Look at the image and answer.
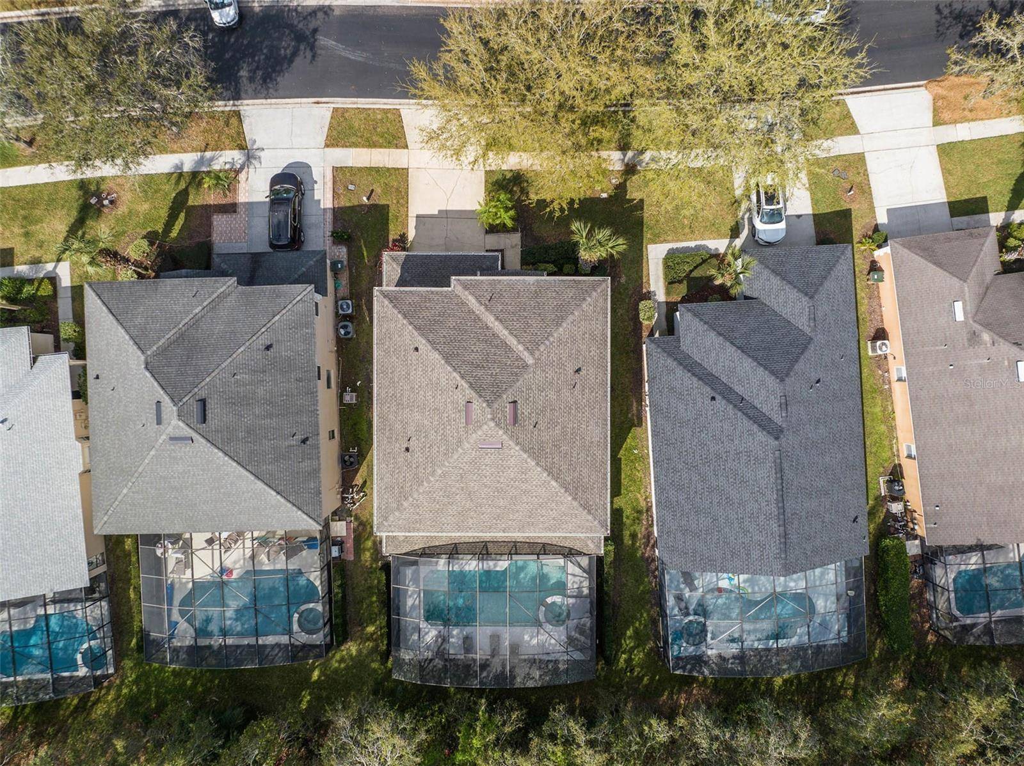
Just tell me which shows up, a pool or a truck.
pool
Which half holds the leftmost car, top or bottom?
top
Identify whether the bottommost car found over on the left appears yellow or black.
black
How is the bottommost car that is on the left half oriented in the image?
up and down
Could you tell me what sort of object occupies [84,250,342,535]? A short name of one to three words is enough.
house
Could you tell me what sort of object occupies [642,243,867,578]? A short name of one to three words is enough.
house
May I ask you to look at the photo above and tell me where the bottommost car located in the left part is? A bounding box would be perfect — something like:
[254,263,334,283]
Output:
[263,167,305,248]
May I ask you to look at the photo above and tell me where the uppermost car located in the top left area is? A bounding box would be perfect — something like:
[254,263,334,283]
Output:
[198,0,240,31]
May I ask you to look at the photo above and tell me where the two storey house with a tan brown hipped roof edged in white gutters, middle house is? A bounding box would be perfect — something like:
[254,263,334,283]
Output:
[373,251,612,557]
